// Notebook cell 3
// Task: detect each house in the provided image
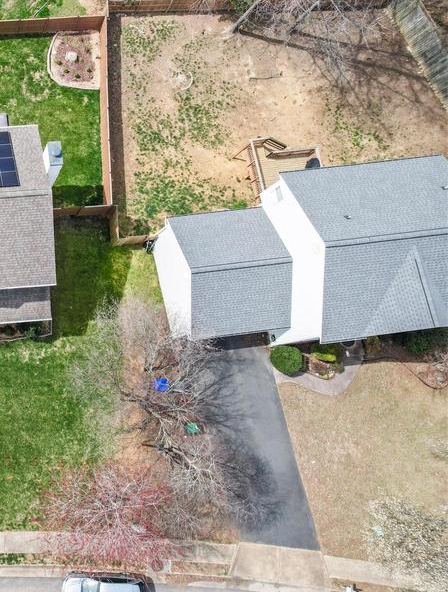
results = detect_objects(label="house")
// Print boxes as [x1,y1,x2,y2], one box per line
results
[0,123,61,325]
[154,153,448,369]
